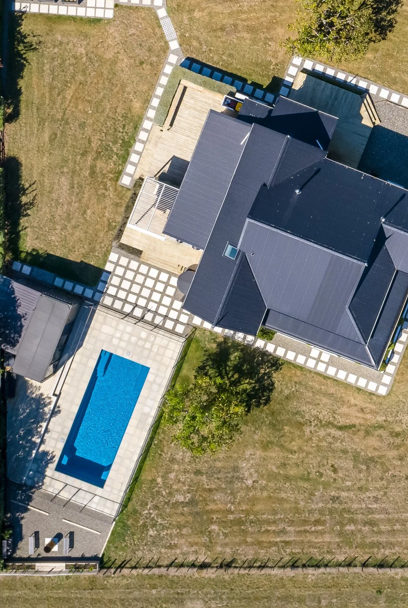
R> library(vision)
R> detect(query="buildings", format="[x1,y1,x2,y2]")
[0,274,83,384]
[163,95,408,373]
